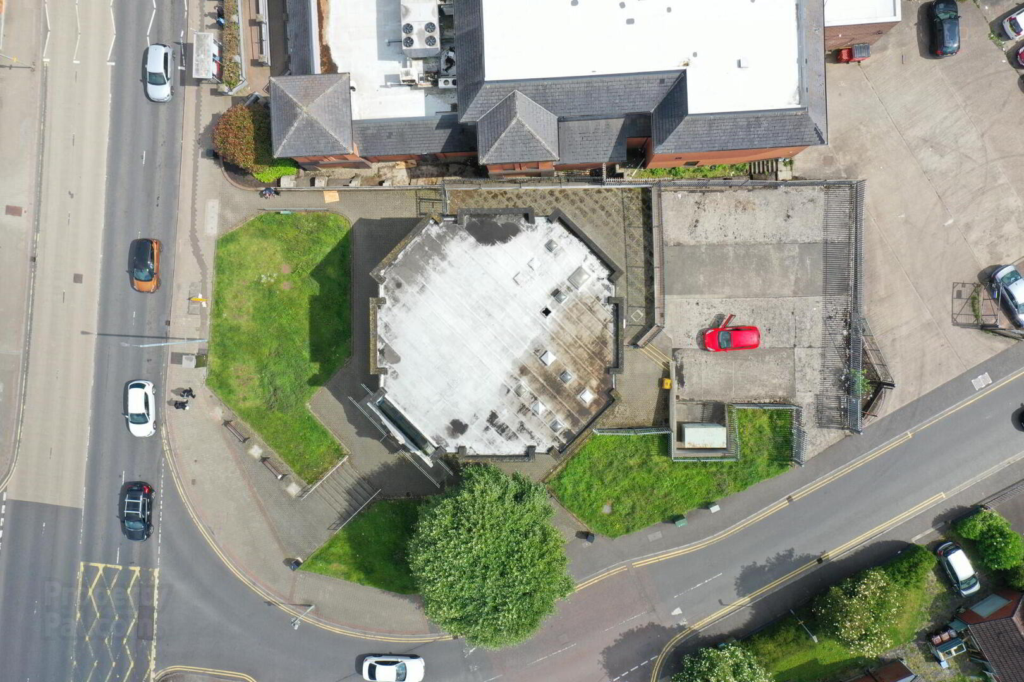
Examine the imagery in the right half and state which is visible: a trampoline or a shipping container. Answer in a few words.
shipping container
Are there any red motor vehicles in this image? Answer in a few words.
Yes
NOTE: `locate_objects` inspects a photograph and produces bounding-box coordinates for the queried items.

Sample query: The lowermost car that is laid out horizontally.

[362,650,425,682]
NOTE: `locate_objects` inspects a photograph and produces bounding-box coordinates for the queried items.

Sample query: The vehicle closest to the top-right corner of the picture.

[995,4,1024,39]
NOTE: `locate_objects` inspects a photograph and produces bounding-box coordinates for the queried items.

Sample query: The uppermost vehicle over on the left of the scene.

[143,44,177,104]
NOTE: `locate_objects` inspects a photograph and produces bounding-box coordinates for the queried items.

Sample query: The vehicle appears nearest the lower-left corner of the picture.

[119,481,155,541]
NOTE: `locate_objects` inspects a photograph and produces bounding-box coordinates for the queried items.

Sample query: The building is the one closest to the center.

[366,209,623,468]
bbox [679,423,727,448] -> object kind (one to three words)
shipping container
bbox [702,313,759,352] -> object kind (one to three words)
car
